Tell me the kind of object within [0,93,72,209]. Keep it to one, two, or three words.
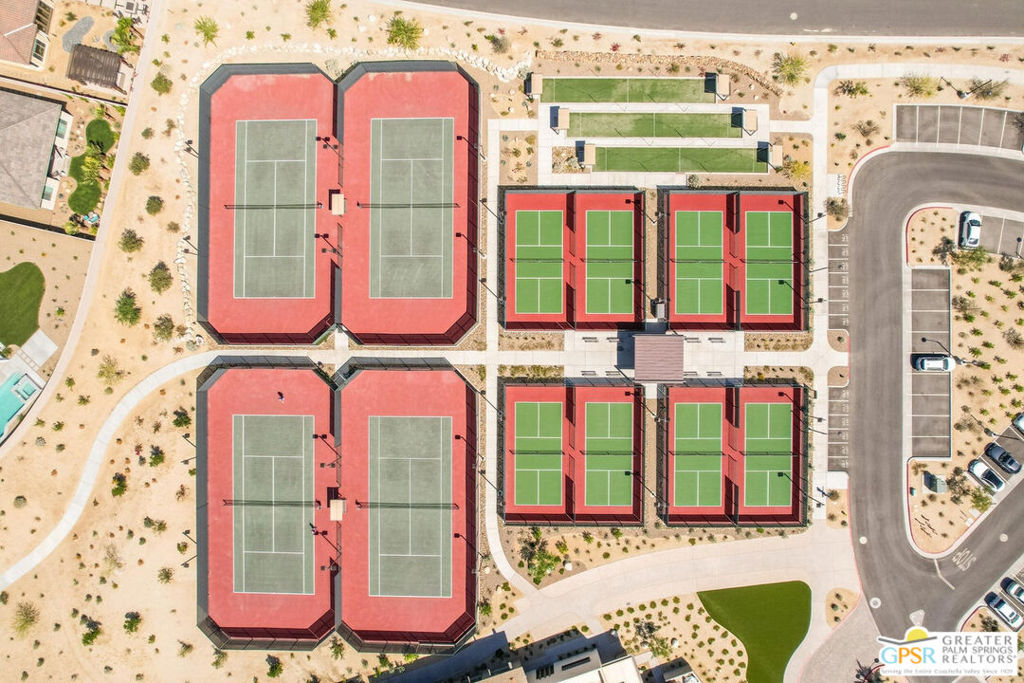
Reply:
house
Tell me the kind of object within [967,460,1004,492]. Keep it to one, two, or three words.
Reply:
car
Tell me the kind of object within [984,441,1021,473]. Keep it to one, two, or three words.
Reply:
car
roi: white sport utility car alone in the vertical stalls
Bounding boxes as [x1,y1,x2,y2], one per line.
[918,355,954,372]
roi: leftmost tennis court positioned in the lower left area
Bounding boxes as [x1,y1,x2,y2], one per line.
[208,370,341,638]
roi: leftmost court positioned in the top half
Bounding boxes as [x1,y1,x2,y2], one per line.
[209,73,343,342]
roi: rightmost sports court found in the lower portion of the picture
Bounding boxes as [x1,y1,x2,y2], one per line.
[735,389,801,523]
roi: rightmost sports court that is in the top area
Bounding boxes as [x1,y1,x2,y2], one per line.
[735,194,801,330]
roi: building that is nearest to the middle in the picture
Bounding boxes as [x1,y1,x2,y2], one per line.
[629,333,685,382]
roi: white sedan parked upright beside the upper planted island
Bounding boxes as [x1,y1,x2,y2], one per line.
[961,212,983,248]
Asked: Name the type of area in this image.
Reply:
sports ground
